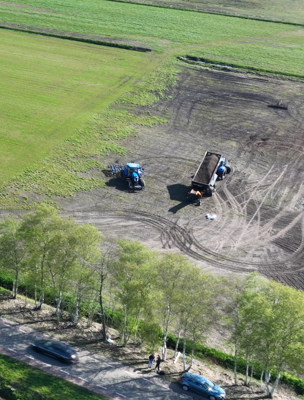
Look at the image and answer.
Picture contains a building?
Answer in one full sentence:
No, there's no building here.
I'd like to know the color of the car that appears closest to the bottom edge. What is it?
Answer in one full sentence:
The color of the car that appears closest to the bottom edge is blue.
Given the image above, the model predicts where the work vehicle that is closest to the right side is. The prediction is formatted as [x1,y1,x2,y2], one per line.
[213,153,232,182]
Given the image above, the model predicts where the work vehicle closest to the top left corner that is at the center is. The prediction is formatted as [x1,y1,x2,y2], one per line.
[121,160,150,188]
